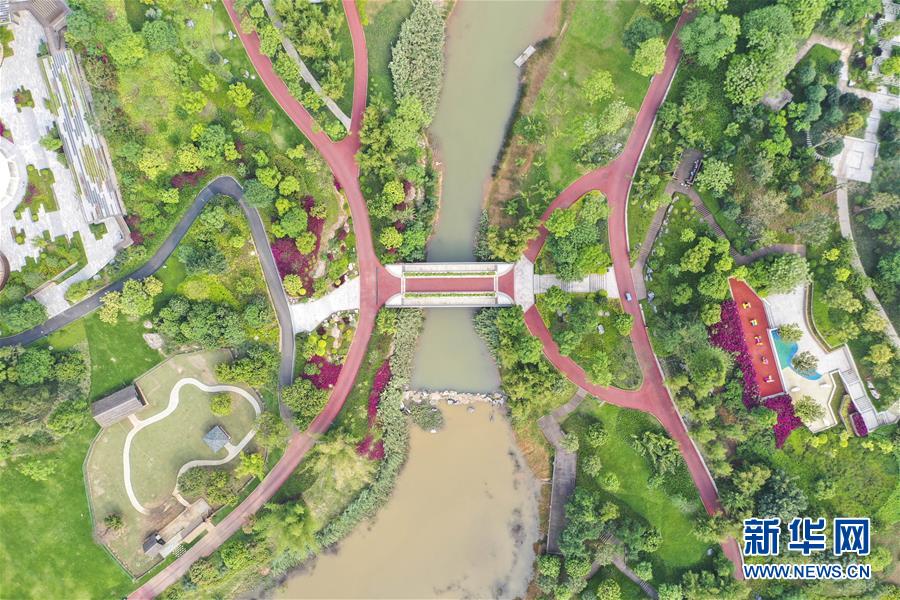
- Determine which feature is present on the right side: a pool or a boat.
pool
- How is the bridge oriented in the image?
from side to side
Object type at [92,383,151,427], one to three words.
shed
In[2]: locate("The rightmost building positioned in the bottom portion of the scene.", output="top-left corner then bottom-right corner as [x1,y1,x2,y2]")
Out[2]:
[203,424,233,452]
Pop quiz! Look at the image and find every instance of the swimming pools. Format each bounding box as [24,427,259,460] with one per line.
[773,329,822,380]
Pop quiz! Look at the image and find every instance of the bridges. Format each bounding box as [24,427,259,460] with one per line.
[377,264,516,307]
